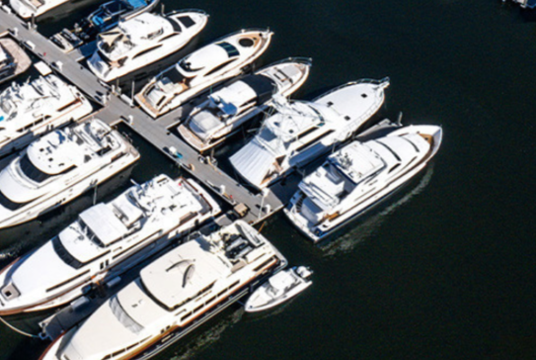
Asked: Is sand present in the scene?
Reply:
No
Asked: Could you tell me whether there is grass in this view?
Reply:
No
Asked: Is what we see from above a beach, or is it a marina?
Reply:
marina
